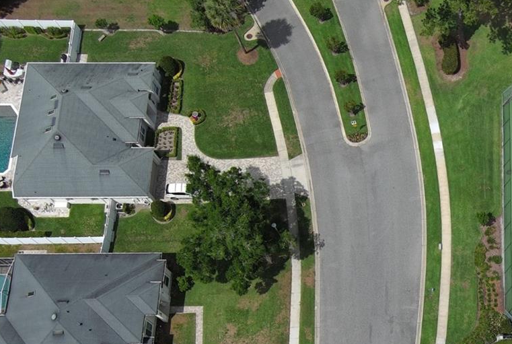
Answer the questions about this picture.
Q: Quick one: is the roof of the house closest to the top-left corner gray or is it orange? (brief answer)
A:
gray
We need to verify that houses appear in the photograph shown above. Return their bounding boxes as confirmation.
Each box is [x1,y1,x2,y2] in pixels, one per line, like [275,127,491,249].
[0,251,176,344]
[11,61,164,205]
